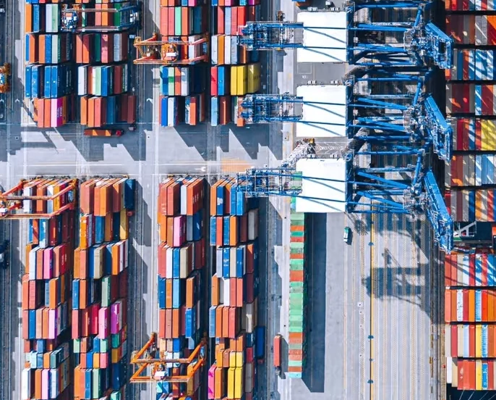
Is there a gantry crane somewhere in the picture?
Yes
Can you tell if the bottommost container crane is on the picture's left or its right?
left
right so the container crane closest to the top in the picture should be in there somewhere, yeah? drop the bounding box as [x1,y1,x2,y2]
[55,0,139,36]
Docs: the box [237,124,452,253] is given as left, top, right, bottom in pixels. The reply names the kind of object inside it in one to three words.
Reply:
container crane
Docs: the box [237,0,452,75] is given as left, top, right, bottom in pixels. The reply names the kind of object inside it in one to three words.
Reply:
container crane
